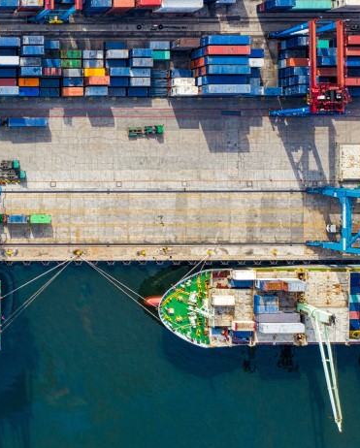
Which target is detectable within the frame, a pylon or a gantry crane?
gantry crane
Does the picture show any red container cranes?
Yes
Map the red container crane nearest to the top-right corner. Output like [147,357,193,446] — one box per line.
[268,17,350,116]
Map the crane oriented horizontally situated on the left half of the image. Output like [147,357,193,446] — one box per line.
[26,0,84,25]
